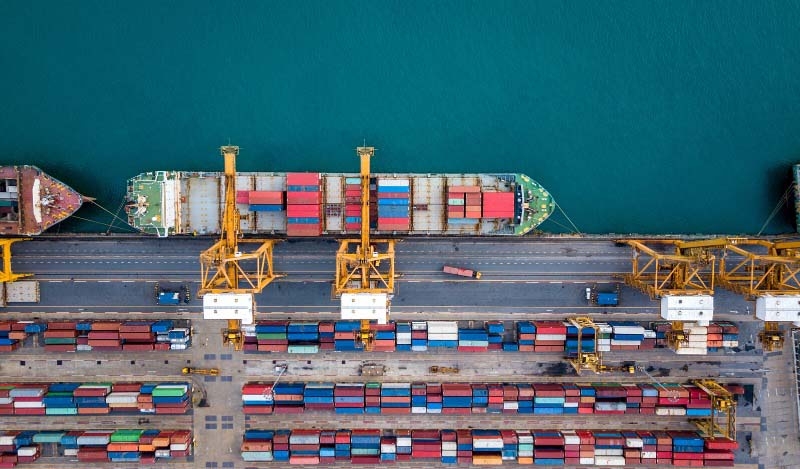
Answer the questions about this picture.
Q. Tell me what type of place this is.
port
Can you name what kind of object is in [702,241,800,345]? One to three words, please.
container crane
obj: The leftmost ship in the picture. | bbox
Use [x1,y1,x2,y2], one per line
[0,165,100,237]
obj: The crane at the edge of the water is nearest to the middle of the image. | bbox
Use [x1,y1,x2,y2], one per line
[330,137,409,345]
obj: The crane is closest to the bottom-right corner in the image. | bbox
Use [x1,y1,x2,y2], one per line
[688,379,737,442]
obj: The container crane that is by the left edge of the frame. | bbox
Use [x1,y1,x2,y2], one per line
[0,241,32,285]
